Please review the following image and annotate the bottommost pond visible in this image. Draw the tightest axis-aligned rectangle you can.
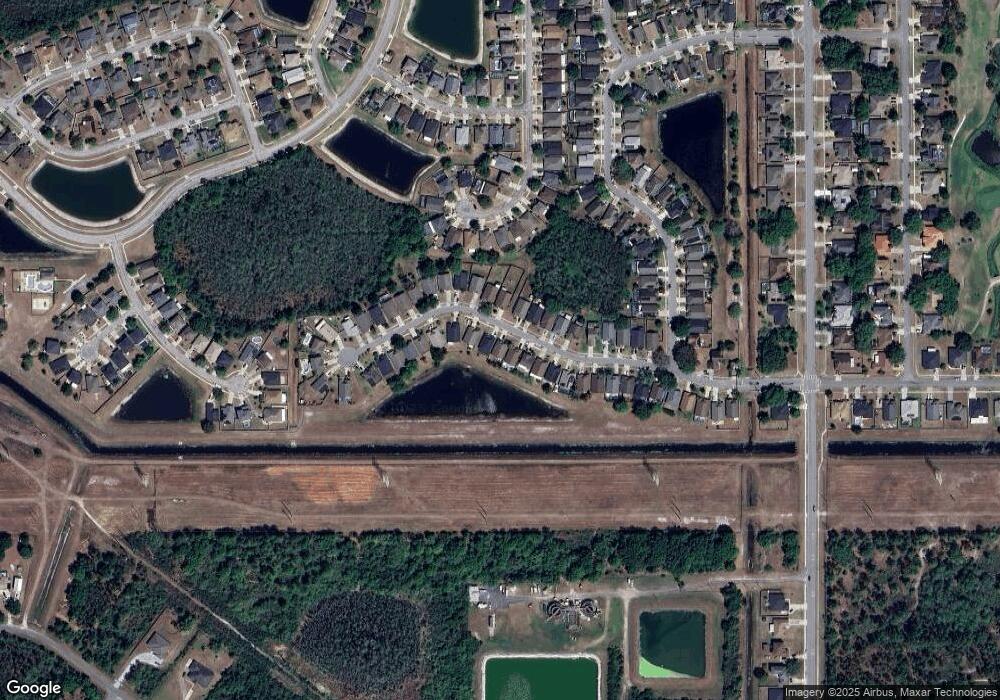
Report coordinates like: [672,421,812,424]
[482,656,601,700]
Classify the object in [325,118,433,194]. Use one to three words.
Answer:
pond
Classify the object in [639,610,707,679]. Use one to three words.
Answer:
pond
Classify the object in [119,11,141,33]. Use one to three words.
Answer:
house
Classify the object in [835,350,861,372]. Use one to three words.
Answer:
house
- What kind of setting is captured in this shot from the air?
residential area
